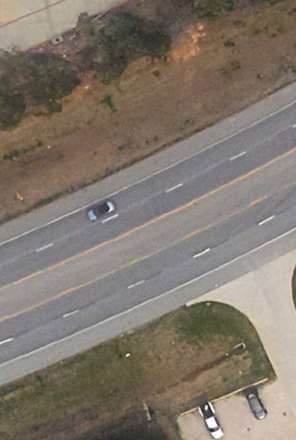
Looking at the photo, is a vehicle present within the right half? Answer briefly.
Yes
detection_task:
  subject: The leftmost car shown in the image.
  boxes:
[87,200,116,221]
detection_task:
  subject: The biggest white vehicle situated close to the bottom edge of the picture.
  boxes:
[199,400,222,439]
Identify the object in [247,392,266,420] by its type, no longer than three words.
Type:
car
